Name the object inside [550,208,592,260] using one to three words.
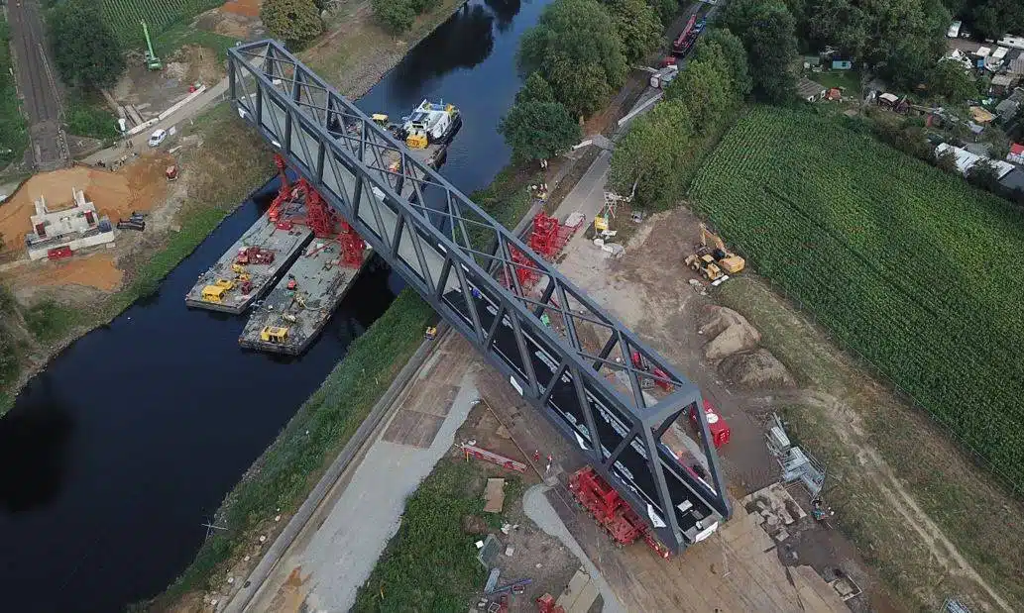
trailer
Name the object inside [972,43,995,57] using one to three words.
camper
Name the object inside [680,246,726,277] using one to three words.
work vehicle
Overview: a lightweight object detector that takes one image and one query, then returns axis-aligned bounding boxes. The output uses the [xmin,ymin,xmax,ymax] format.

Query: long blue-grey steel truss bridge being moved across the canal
[227,36,735,557]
